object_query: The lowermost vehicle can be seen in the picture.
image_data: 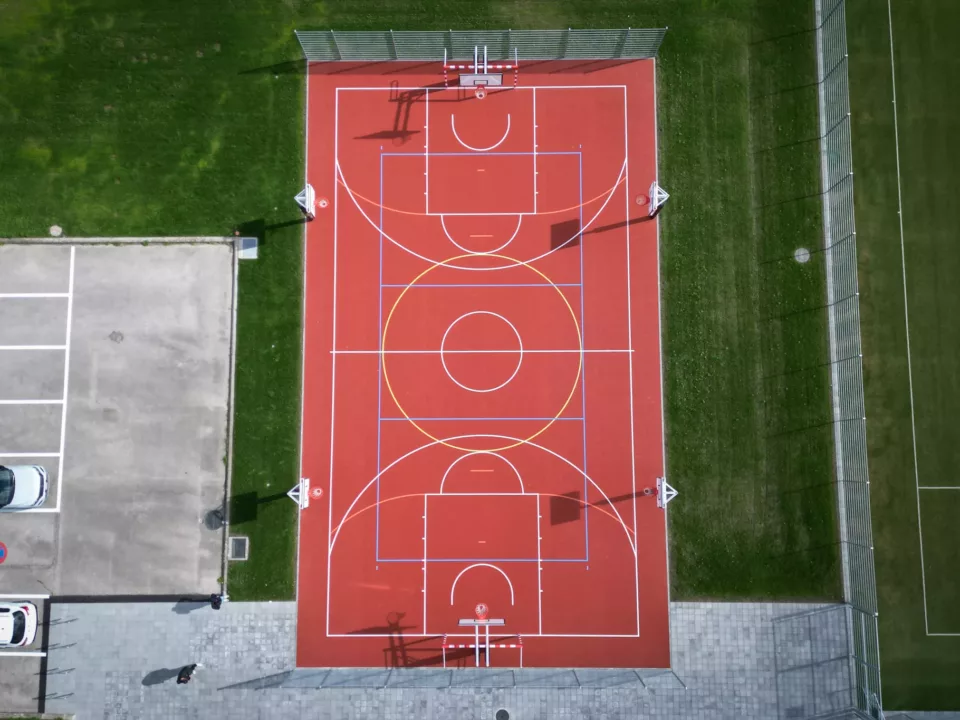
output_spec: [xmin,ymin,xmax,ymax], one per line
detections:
[0,599,42,648]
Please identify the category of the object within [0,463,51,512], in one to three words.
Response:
car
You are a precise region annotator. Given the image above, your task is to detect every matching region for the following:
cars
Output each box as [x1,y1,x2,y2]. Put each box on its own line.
[0,599,42,648]
[0,463,51,512]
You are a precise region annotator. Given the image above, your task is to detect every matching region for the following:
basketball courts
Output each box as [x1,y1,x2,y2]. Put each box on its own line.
[293,57,672,669]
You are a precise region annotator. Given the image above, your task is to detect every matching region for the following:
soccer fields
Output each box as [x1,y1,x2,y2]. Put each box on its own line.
[820,0,960,712]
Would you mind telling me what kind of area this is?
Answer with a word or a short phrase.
sports ground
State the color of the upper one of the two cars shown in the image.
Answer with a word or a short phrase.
white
